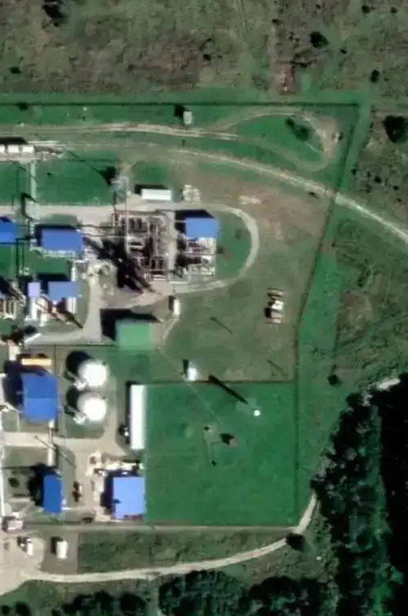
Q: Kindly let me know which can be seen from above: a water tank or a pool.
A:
water tank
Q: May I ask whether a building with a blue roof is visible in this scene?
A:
Yes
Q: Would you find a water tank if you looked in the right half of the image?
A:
No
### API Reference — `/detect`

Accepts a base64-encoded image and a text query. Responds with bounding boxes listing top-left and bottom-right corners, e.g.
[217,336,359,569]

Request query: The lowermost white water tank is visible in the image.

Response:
[66,390,107,424]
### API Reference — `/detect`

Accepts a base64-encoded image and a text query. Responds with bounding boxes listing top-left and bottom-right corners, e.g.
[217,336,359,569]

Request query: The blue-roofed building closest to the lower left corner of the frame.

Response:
[38,470,63,513]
